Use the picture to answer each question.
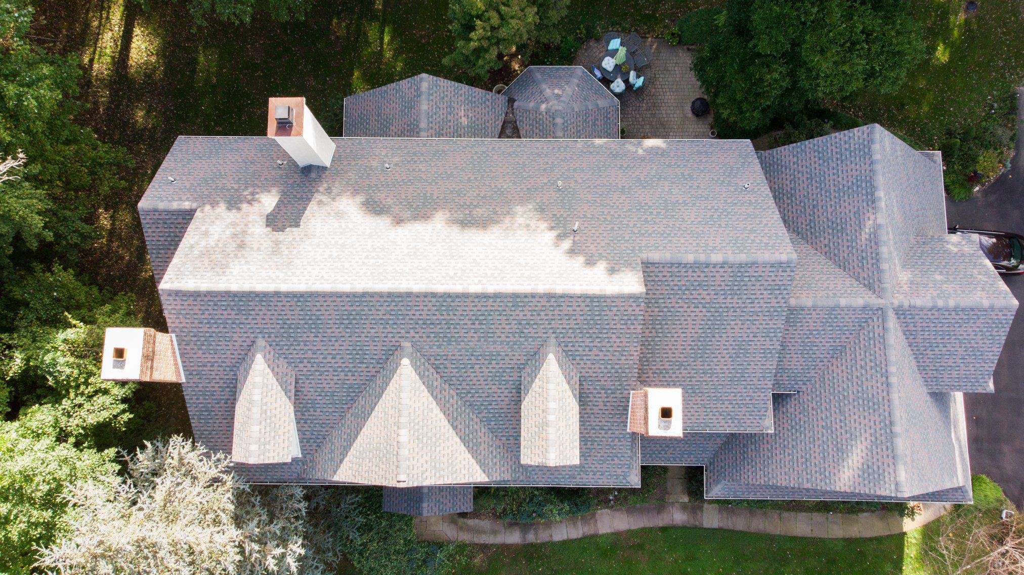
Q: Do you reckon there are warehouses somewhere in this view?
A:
No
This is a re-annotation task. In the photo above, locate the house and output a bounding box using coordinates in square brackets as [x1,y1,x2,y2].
[102,63,1019,515]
